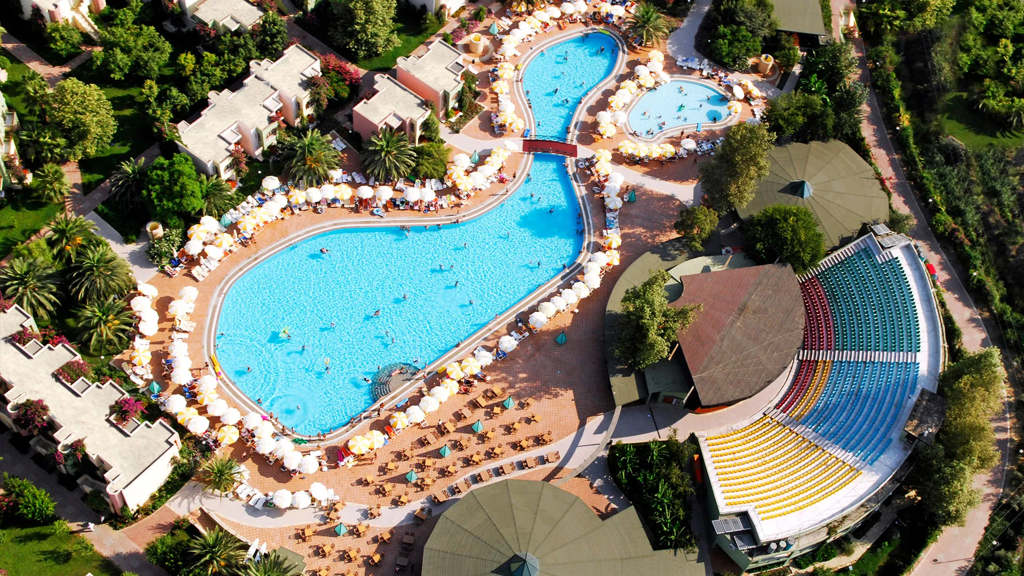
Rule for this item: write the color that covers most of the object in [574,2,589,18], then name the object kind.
white umbrella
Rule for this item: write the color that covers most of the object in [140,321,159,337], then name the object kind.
white umbrella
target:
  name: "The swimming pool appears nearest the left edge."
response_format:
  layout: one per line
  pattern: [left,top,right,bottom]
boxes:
[214,32,619,435]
